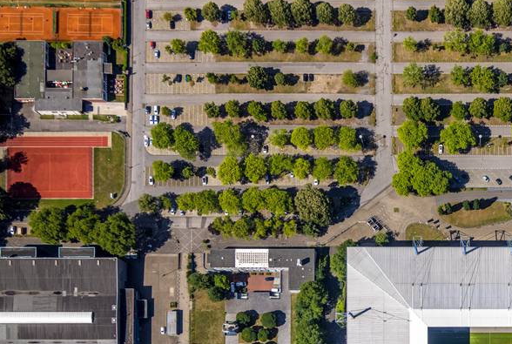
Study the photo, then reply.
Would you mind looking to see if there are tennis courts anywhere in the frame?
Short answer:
Yes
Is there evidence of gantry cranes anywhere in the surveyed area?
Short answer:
No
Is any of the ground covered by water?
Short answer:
No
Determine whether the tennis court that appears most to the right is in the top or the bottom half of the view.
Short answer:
top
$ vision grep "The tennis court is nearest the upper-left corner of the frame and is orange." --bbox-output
[0,7,53,40]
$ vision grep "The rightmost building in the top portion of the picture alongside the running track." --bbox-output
[73,41,108,102]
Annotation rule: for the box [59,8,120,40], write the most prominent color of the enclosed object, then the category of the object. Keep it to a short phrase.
orange tennis court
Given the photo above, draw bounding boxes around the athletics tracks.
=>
[1,132,111,148]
